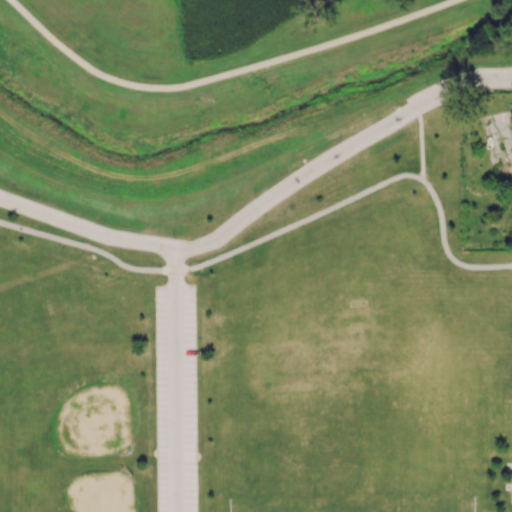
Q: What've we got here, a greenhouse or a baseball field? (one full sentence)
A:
Of the two, only a baseball field appears.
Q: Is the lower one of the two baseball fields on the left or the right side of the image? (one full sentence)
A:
The lower one of the two baseball fields is on the left side of the image.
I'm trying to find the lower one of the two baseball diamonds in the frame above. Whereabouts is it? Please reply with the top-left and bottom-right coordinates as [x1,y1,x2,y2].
[68,472,134,512]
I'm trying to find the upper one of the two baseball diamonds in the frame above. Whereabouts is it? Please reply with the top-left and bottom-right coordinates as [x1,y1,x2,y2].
[60,386,132,456]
